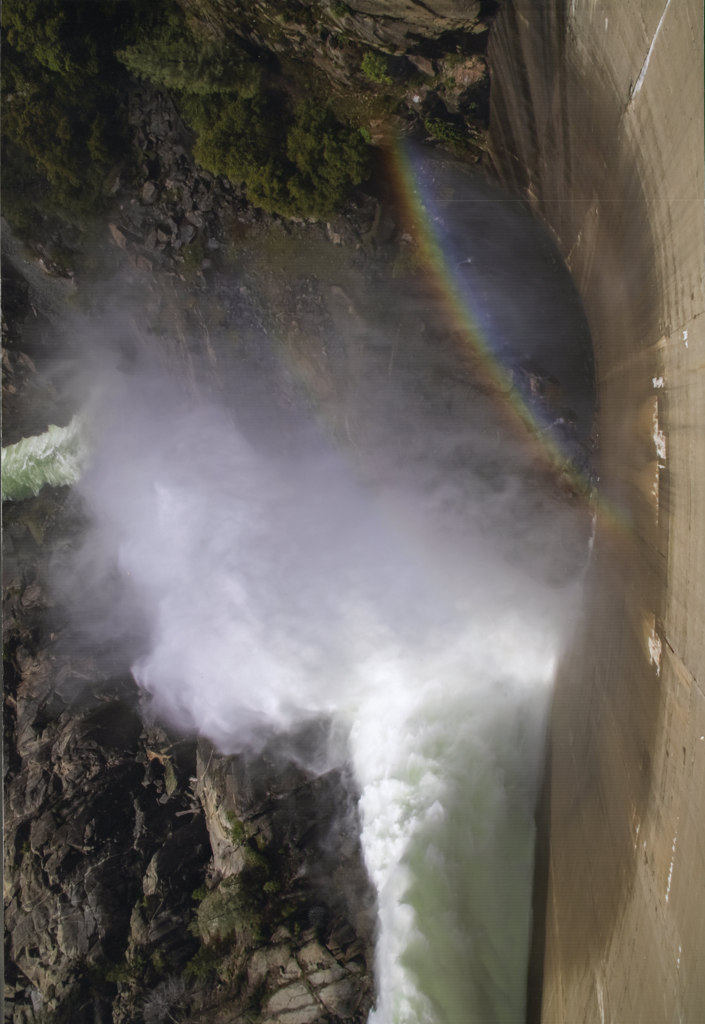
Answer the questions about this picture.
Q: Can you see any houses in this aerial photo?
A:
No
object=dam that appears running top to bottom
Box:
[462,0,705,1024]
